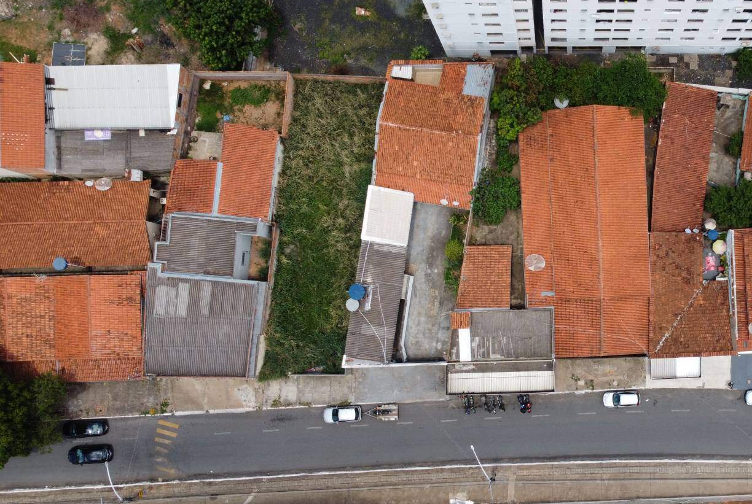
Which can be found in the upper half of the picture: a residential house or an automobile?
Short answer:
residential house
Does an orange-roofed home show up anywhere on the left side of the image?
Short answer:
Yes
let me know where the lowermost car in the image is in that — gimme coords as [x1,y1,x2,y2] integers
[70,444,115,463]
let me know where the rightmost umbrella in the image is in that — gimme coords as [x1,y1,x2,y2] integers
[712,239,726,254]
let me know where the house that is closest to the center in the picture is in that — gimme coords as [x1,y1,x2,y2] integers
[344,185,417,362]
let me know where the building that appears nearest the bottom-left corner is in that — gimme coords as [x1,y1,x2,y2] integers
[0,273,144,382]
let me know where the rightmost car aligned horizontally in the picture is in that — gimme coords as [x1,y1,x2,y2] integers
[603,390,639,407]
